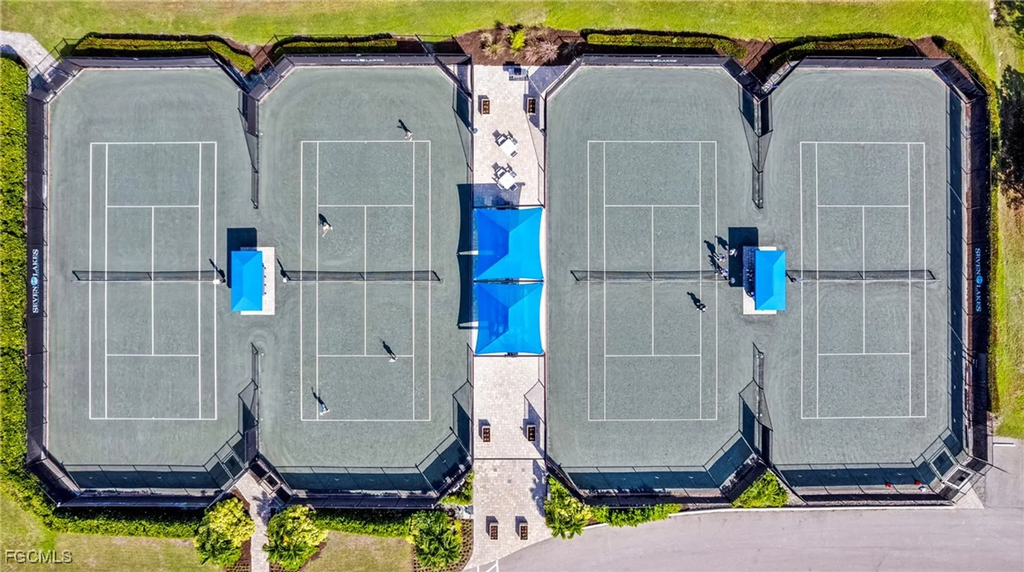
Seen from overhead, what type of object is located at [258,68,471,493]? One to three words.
tennis court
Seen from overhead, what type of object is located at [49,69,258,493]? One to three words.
tennis court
